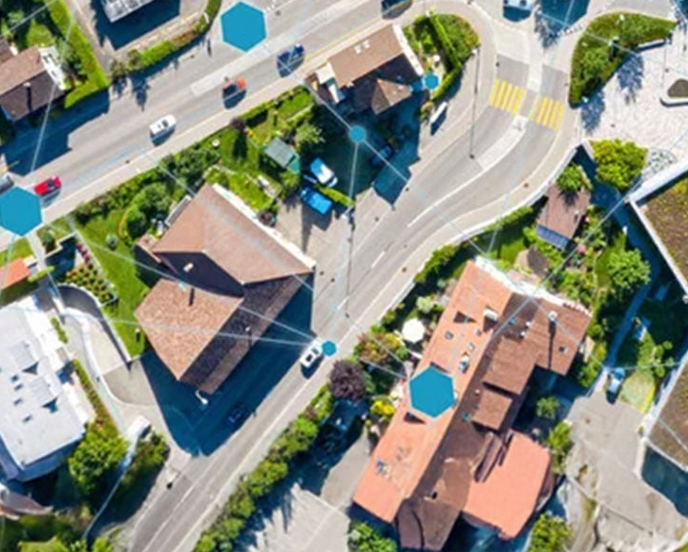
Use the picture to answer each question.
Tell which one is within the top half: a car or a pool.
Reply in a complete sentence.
There is a car within the top half.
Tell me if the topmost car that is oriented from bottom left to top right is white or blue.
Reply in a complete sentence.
The topmost car that is oriented from bottom left to top right is blue.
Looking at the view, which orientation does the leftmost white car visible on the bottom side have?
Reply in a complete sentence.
Seen from above, the leftmost white car visible on the bottom side lies on a diagonal.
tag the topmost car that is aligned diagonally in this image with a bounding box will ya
[277,46,303,67]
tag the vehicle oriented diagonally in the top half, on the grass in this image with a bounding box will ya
[312,158,336,186]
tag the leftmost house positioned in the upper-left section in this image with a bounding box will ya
[0,39,74,120]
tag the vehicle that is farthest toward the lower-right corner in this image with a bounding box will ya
[608,368,624,395]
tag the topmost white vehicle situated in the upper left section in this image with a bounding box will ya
[149,117,176,137]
